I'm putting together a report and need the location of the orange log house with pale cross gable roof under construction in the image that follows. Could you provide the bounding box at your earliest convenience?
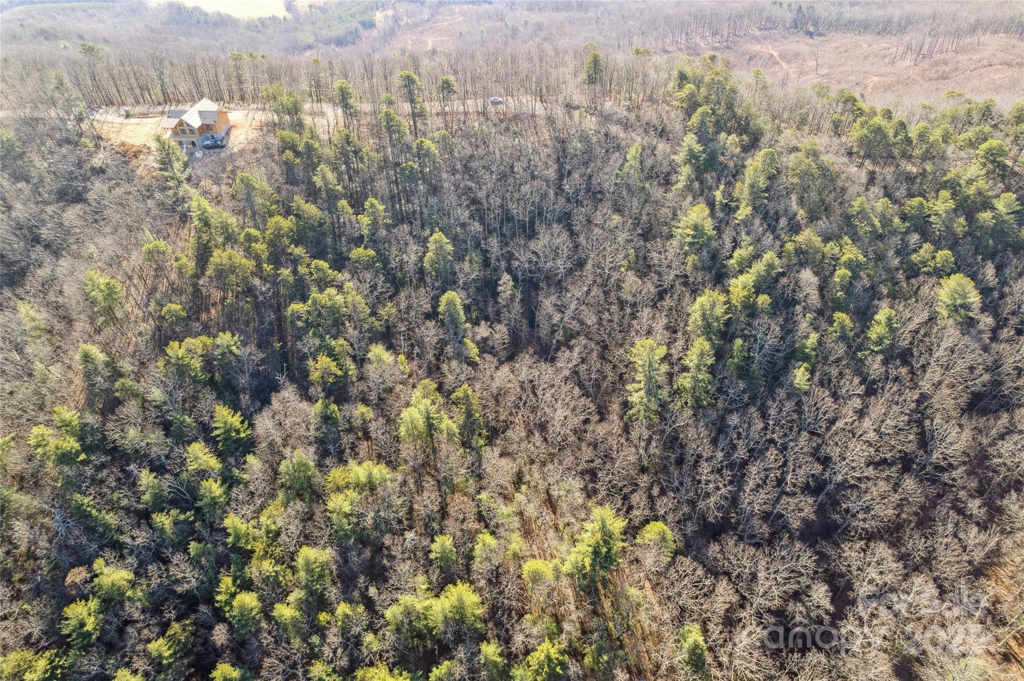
[159,100,226,150]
